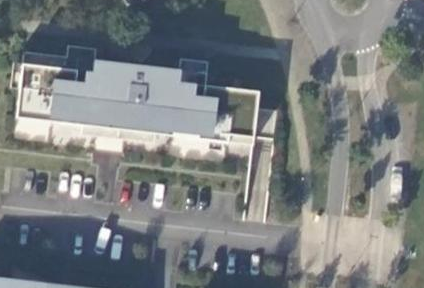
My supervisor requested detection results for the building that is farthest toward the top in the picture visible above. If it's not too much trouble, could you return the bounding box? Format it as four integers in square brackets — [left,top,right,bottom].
[10,46,260,158]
